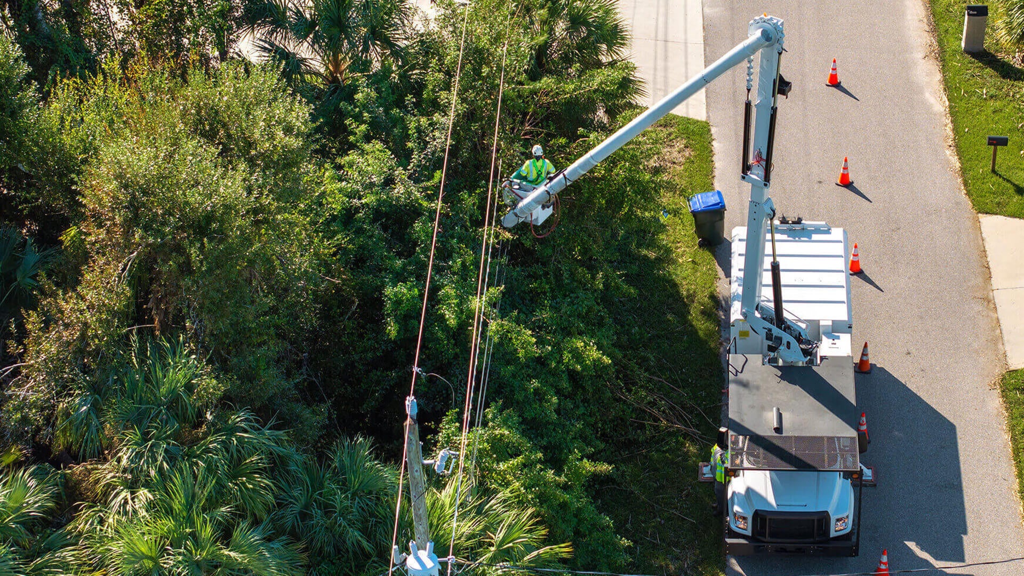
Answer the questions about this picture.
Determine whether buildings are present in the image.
No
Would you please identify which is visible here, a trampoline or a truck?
truck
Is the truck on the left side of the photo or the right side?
right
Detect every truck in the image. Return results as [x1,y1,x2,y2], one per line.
[500,15,880,566]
